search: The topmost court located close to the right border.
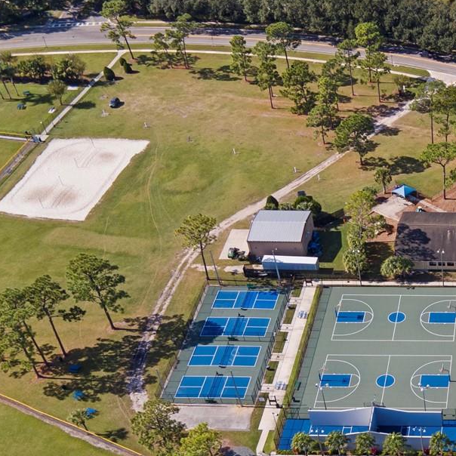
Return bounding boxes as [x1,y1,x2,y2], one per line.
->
[324,295,456,341]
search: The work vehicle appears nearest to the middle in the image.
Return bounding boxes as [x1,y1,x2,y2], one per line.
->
[225,245,240,258]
